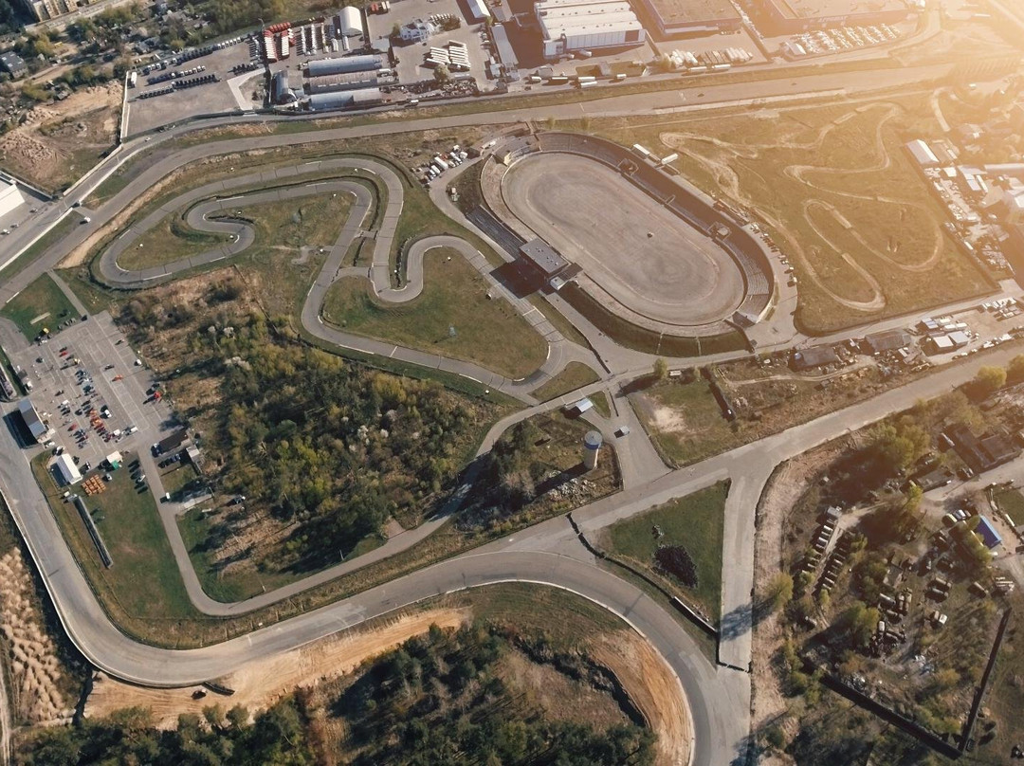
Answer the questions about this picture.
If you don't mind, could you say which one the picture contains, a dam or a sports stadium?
sports stadium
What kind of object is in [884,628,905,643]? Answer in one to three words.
vehicle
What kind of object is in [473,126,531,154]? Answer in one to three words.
shed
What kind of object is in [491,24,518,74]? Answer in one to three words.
building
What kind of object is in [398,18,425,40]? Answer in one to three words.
house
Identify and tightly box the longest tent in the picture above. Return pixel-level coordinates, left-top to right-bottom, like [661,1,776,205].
[54,452,82,485]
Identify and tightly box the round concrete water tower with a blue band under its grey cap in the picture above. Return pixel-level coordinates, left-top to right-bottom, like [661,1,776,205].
[583,427,603,470]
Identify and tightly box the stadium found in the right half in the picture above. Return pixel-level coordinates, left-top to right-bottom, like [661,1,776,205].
[454,129,778,354]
